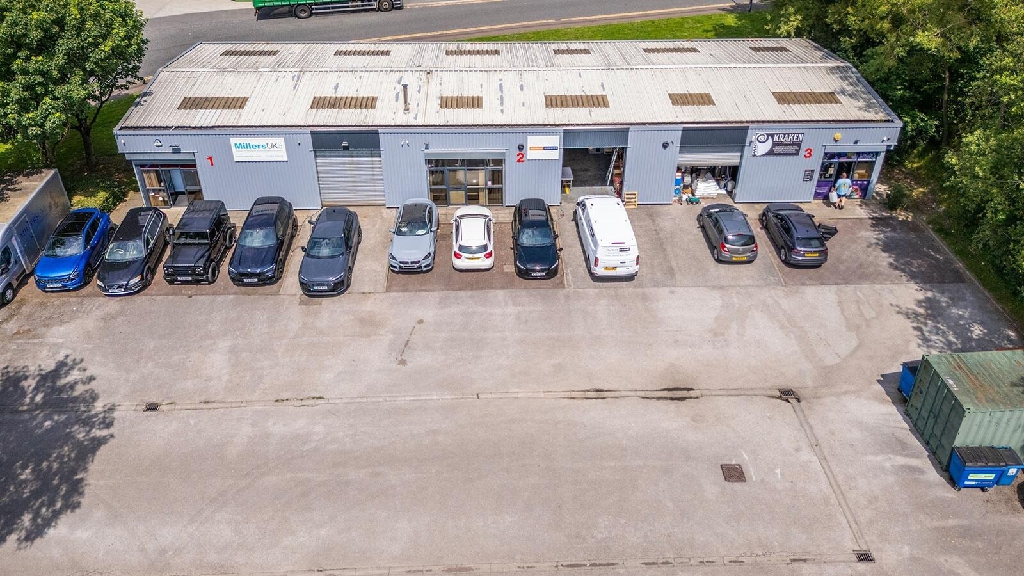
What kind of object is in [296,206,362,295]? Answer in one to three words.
car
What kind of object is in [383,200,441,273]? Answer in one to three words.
car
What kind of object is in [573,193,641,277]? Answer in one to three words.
van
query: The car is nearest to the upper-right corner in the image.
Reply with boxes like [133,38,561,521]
[759,199,841,263]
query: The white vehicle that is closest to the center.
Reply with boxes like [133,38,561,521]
[447,207,501,268]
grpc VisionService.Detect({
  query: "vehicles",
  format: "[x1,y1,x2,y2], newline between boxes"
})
[447,207,501,268]
[255,0,412,18]
[296,206,362,295]
[0,167,73,298]
[702,202,763,260]
[94,204,174,292]
[383,200,441,273]
[573,193,641,277]
[759,199,841,263]
[226,196,298,283]
[507,195,565,276]
[25,205,113,288]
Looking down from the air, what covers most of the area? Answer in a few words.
paved ground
